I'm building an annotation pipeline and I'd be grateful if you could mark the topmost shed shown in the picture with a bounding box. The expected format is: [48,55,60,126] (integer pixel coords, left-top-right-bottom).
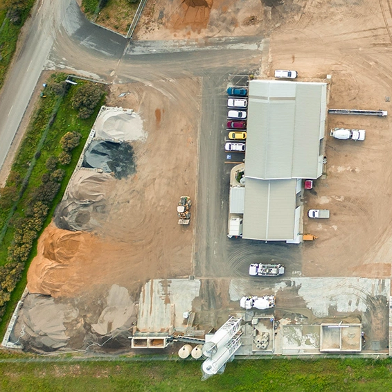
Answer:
[244,79,326,180]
